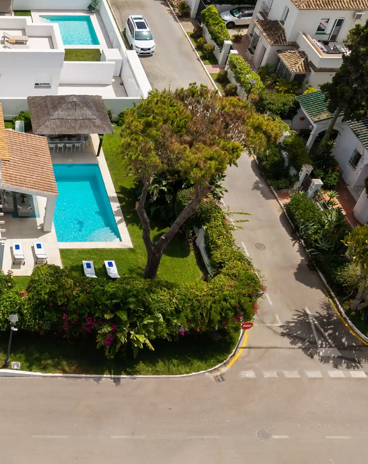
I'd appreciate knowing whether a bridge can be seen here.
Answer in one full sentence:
No, there appears to be no bridge in this shot.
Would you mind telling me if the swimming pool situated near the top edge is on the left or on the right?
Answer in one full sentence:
You can find the swimming pool situated near the top edge on the left side of the picture.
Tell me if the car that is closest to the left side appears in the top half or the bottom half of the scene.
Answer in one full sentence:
The car that is closest to the left side is in the top half of the image.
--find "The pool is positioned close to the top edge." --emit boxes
[39,15,99,45]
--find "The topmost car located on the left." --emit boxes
[125,13,159,51]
